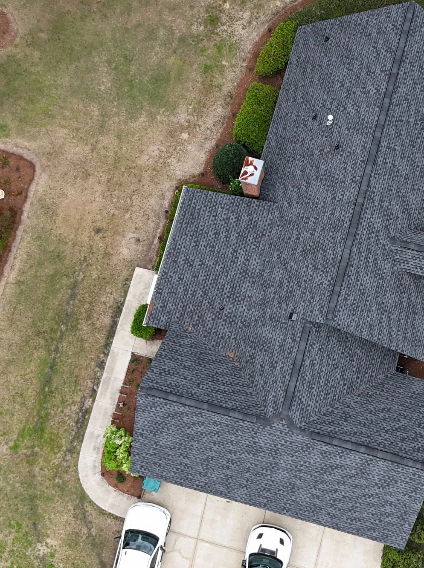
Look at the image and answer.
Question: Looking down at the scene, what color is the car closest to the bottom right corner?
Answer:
white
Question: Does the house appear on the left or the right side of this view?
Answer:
right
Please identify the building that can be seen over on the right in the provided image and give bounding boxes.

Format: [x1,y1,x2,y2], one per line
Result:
[130,0,424,548]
